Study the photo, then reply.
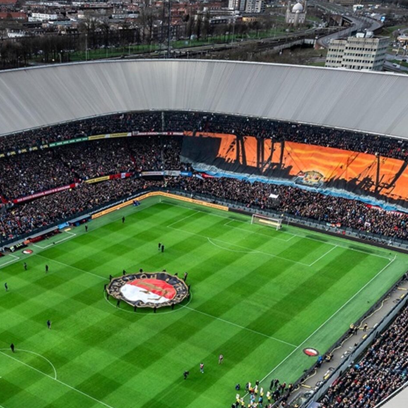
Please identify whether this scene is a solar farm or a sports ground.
sports ground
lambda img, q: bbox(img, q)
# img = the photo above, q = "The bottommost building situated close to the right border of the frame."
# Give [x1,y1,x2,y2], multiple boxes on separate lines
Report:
[325,27,391,72]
